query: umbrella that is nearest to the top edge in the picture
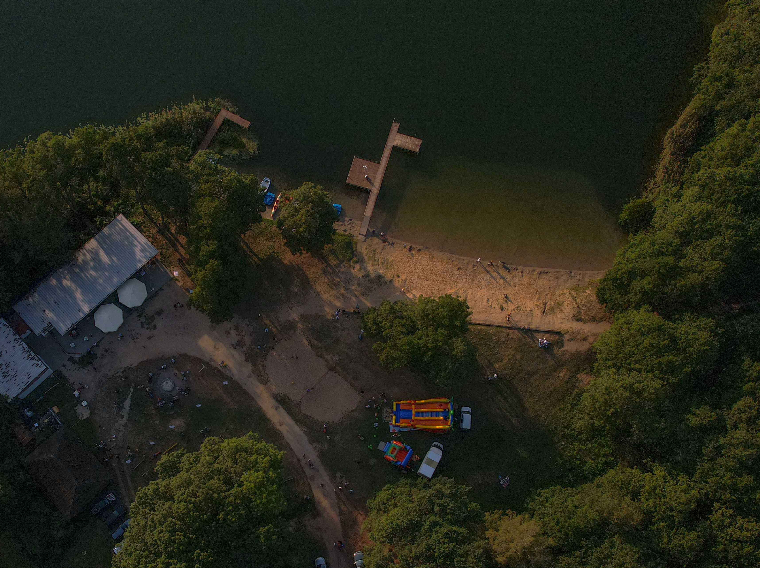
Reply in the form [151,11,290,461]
[118,279,148,307]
